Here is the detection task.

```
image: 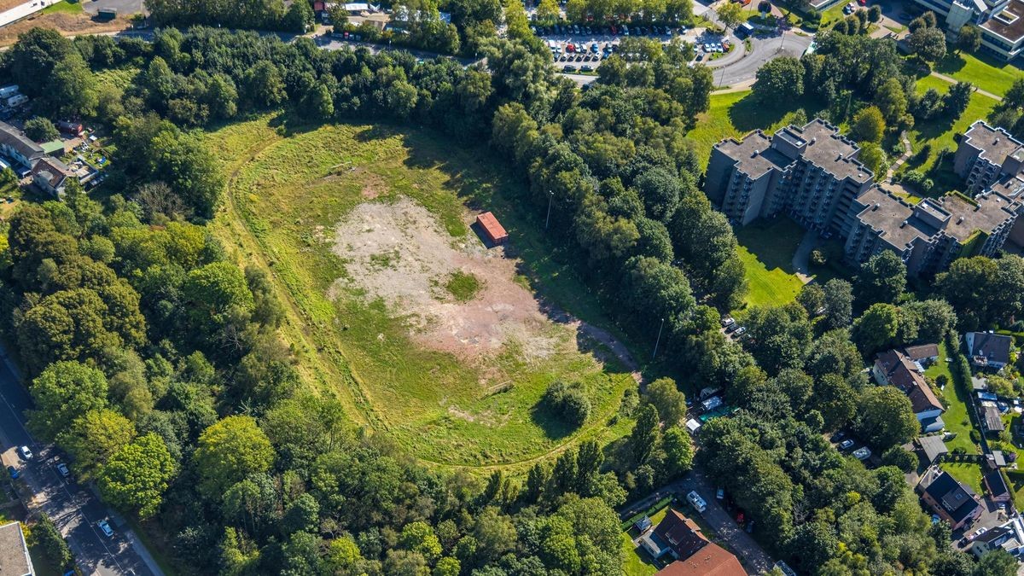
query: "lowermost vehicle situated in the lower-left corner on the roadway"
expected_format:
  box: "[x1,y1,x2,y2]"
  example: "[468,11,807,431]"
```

[98,520,112,537]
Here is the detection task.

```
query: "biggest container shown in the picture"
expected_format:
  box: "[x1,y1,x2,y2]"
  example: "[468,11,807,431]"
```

[477,212,508,245]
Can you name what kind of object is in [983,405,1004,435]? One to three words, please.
shed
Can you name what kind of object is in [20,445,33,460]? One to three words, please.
vehicle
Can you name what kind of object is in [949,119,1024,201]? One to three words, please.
building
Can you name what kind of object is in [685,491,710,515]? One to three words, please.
vehicle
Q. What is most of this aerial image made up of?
trees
